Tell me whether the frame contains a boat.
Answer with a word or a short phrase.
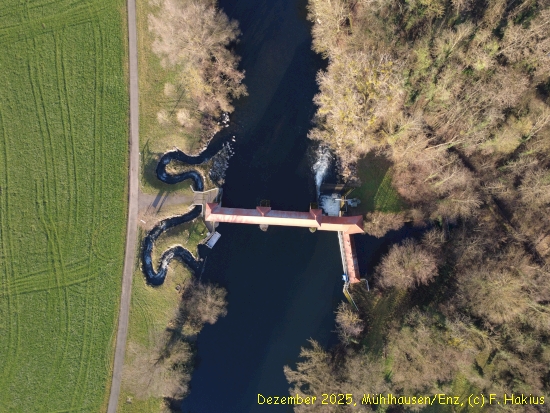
No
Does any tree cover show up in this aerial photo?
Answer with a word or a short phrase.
Yes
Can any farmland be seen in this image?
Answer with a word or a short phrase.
Yes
